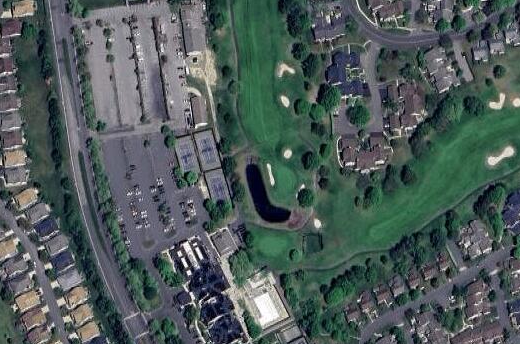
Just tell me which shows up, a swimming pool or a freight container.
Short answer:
swimming pool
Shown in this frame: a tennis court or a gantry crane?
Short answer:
tennis court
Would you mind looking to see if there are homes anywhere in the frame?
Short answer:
Yes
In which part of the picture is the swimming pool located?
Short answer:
bottom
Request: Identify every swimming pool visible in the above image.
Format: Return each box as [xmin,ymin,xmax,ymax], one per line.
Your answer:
[245,272,288,333]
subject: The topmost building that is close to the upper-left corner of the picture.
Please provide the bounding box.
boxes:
[14,0,35,19]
